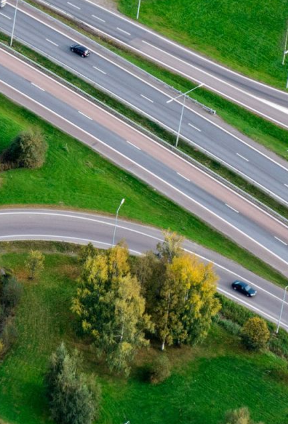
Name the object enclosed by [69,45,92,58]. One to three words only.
vehicle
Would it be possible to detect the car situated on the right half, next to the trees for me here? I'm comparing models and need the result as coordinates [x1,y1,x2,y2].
[231,280,258,298]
